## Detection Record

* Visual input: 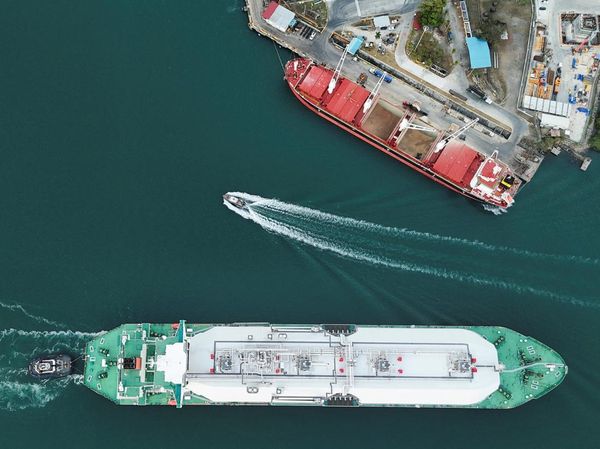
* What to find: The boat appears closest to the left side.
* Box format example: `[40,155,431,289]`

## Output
[27,353,83,379]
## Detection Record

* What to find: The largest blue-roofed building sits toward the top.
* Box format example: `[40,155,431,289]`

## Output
[466,36,491,69]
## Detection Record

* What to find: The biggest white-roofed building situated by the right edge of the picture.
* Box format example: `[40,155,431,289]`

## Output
[540,114,571,129]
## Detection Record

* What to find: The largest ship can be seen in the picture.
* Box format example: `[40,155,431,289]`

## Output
[84,320,569,410]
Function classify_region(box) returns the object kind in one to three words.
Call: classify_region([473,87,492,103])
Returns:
vehicle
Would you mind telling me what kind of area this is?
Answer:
port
